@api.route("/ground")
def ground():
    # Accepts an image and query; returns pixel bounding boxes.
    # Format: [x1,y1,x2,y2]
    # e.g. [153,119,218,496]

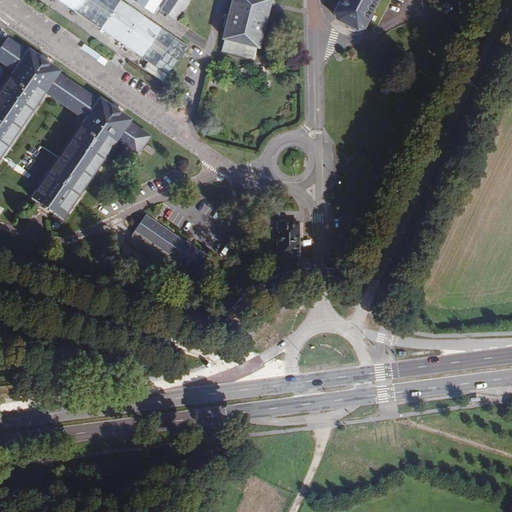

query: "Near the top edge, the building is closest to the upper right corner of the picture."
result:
[335,0,382,30]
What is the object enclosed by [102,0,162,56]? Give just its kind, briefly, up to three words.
building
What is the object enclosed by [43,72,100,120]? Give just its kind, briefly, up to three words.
building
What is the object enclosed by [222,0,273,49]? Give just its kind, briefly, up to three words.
house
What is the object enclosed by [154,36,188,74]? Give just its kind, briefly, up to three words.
greenhouse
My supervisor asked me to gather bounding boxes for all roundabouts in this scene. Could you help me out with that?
[259,126,325,214]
